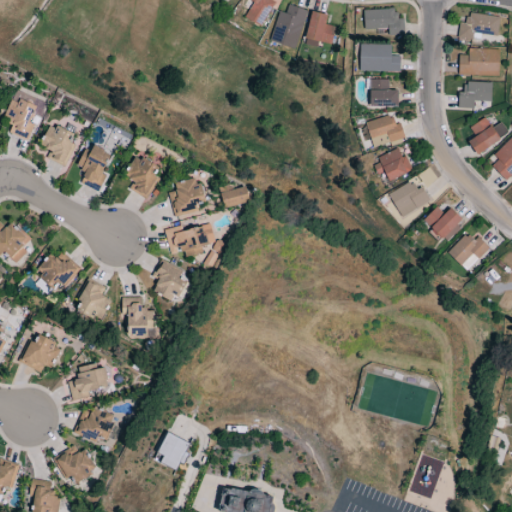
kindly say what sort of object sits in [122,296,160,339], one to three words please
house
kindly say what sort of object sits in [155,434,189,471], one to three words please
shed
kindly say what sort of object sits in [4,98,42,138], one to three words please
house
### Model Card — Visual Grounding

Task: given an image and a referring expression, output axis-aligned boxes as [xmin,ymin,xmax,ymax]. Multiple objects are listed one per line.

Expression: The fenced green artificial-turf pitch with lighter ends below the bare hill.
[354,362,440,428]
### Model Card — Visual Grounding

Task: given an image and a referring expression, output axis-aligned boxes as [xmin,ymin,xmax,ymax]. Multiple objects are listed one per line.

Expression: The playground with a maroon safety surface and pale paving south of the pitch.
[405,451,455,512]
